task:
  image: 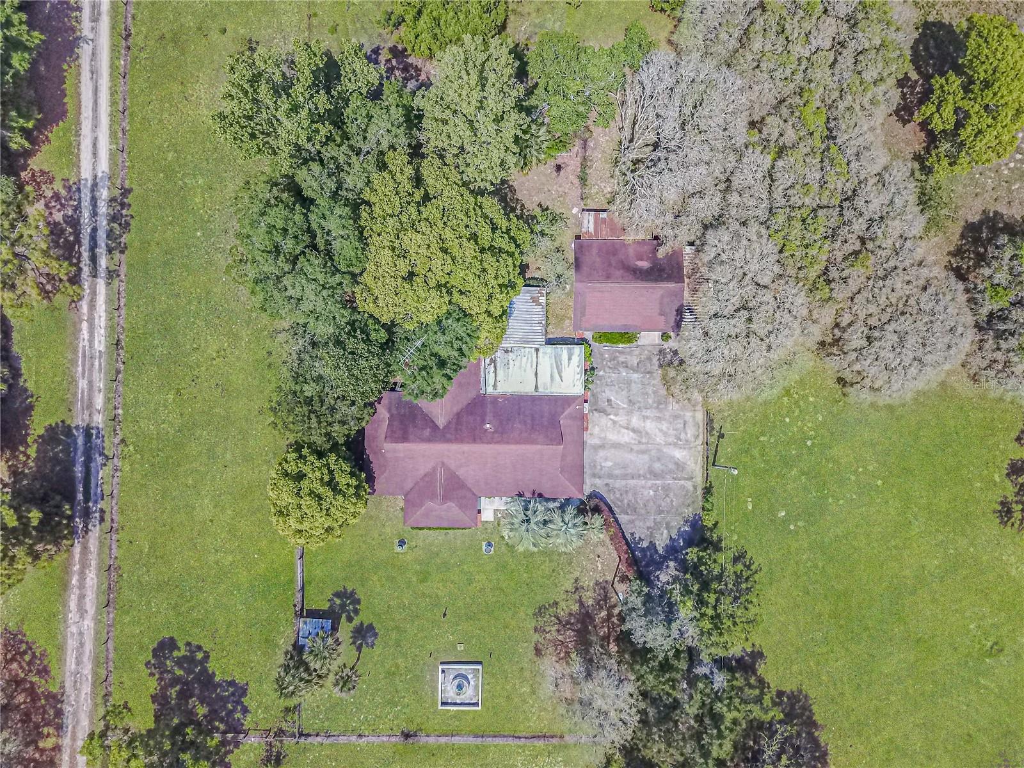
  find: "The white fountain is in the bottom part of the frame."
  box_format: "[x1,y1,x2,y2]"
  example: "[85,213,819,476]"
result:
[439,661,482,710]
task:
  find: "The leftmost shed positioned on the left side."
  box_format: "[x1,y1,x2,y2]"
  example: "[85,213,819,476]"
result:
[299,613,335,646]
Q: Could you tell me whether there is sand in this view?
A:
No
